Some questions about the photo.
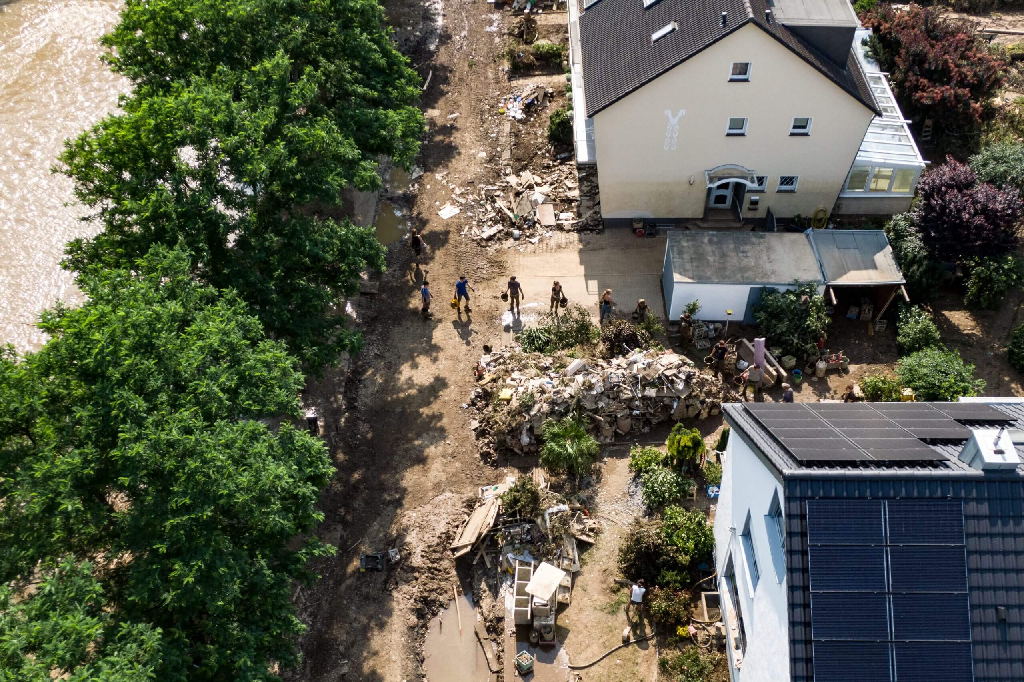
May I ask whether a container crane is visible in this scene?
No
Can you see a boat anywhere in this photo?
No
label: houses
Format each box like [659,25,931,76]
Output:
[702,392,1024,682]
[576,0,889,229]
